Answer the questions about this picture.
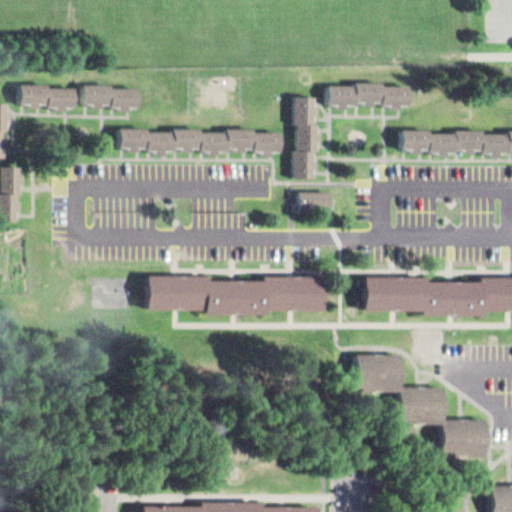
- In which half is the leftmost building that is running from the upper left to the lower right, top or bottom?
bottom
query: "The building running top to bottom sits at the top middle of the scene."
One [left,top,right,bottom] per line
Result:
[294,96,319,180]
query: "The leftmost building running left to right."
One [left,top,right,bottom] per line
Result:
[20,85,78,112]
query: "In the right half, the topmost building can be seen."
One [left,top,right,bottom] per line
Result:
[326,84,412,110]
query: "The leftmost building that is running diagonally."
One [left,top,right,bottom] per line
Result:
[354,354,489,456]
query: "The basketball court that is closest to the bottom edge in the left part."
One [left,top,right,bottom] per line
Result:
[92,279,130,310]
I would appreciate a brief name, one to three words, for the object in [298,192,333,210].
house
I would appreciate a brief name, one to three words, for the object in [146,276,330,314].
building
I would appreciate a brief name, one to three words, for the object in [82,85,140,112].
building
